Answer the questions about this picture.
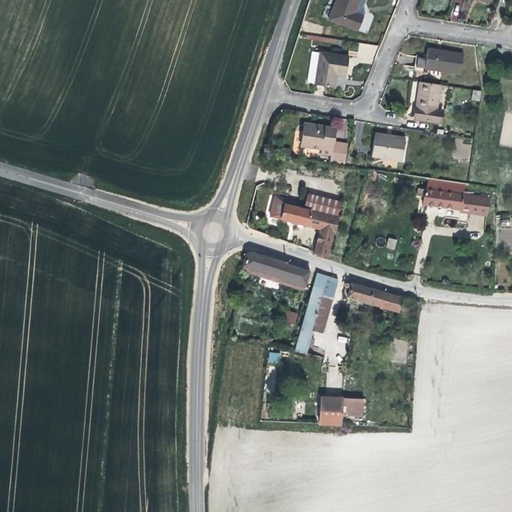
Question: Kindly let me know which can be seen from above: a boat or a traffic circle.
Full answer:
The image shows a traffic circle.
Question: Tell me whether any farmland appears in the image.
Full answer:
Yes, the picture does contain farmland.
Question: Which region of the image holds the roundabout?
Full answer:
You can find the roundabout in the center area of the picture.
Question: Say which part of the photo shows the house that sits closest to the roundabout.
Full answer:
The house that sits closest to the roundabout is located in the center region of the scene.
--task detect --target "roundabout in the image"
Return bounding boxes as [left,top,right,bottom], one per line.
[162,190,247,282]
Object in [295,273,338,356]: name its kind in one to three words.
shed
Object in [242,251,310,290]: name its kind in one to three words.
house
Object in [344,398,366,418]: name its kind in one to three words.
building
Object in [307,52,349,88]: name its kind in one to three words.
house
